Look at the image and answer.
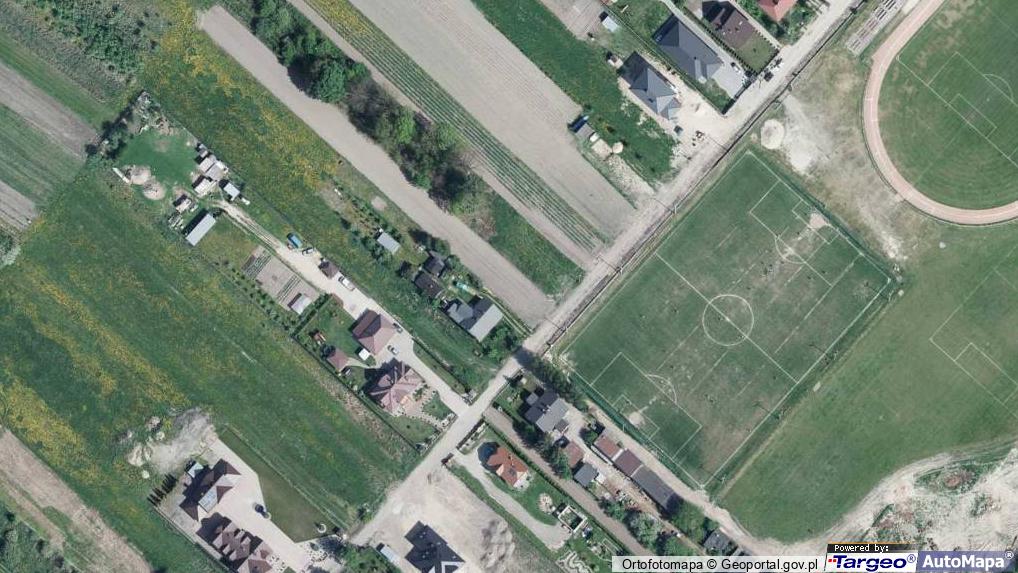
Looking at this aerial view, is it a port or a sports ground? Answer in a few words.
sports ground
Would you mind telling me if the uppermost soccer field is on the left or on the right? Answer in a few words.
right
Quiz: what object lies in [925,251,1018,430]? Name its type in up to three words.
soccer field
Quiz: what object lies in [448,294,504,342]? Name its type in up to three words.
house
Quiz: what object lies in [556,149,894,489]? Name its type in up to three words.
soccer field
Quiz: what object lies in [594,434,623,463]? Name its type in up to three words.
building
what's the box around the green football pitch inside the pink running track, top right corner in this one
[877,0,1018,211]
